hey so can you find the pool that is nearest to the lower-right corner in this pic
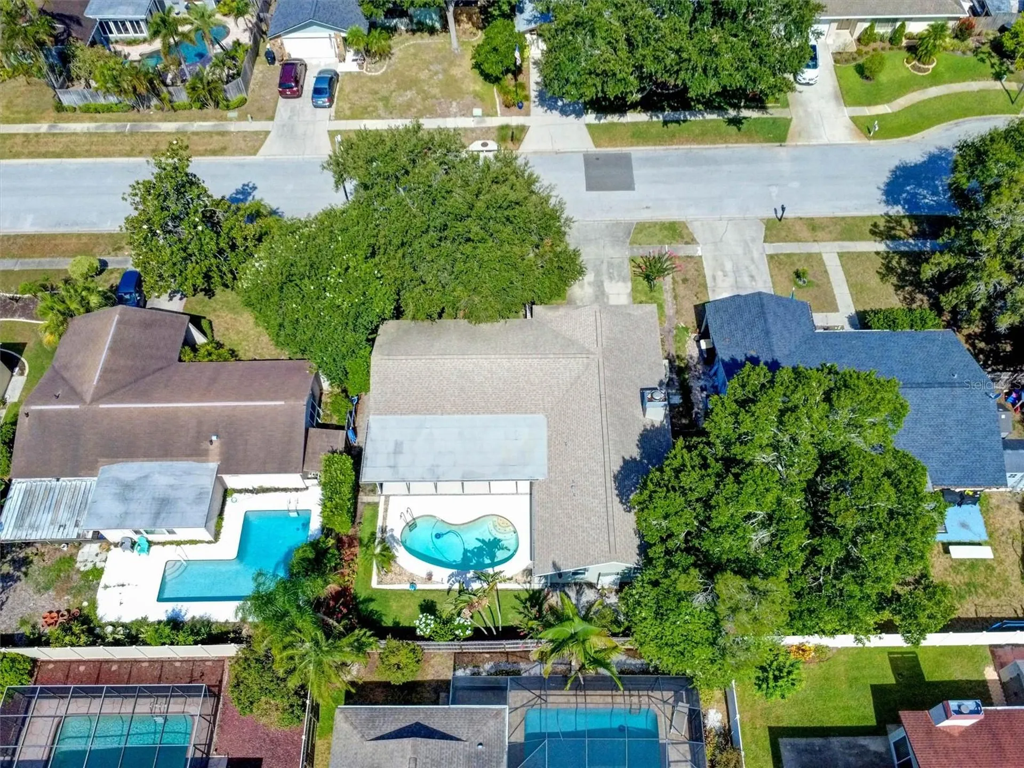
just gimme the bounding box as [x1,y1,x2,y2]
[518,695,667,768]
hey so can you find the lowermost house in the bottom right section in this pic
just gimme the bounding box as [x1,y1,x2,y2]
[894,699,1024,768]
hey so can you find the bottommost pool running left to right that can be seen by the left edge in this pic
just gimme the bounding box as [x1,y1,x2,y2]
[44,701,197,768]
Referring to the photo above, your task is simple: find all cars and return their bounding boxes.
[278,61,307,95]
[115,247,152,302]
[311,71,339,105]
[789,42,819,81]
